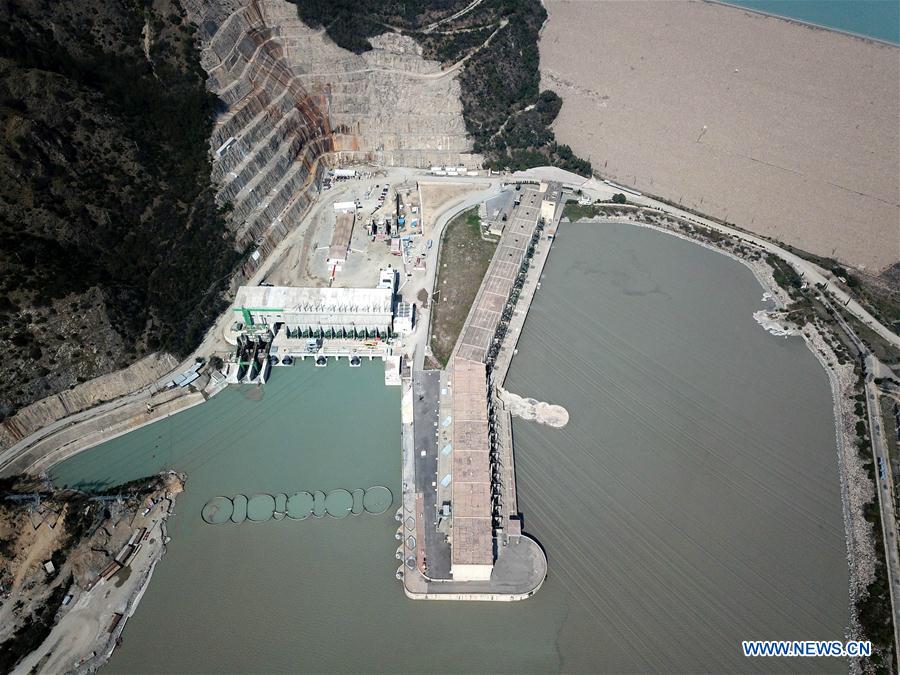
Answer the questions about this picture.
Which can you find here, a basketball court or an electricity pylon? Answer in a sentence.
The image shows an electricity pylon.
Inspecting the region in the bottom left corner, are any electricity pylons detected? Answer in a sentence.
Yes, an electricity pylon shows up in the bottom left corner.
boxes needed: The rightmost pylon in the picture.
[81,501,130,530]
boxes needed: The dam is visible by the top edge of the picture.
[540,0,900,265]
